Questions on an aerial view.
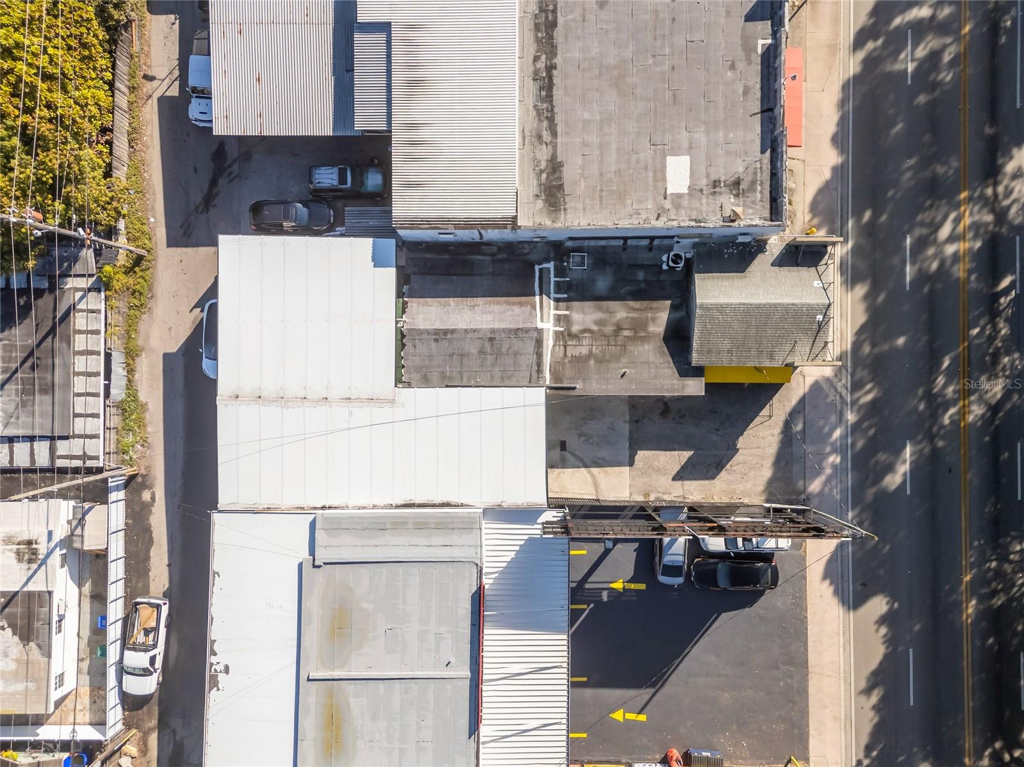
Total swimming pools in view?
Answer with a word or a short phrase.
0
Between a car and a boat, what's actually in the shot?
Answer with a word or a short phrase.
car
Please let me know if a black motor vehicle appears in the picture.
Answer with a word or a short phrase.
Yes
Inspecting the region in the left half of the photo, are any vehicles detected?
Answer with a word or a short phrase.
Yes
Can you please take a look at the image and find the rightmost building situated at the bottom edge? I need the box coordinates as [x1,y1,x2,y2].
[202,507,485,767]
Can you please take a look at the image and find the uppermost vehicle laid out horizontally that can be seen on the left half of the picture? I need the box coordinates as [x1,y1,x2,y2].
[310,164,391,203]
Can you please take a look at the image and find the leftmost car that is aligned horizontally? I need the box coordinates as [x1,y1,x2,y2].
[252,198,336,235]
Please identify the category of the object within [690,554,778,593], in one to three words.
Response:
car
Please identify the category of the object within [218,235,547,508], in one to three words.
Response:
building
